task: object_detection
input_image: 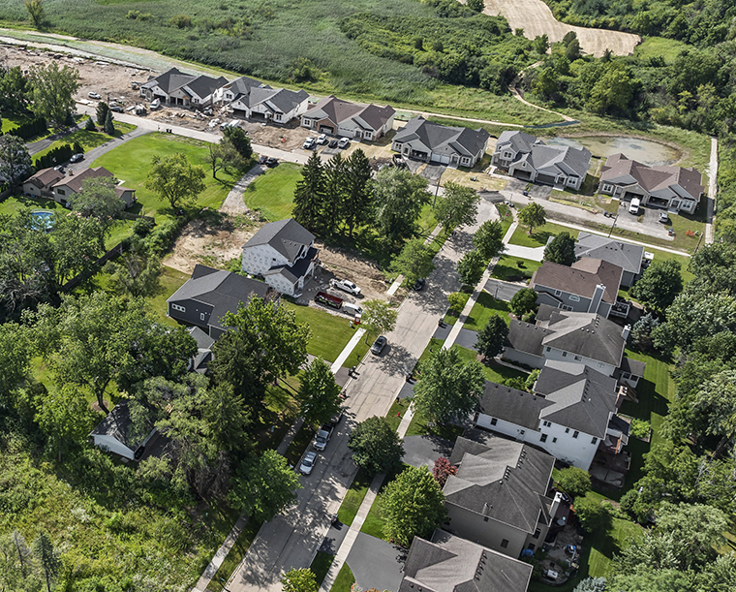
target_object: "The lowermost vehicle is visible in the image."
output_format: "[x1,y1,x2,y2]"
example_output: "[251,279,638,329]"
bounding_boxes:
[300,451,318,473]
